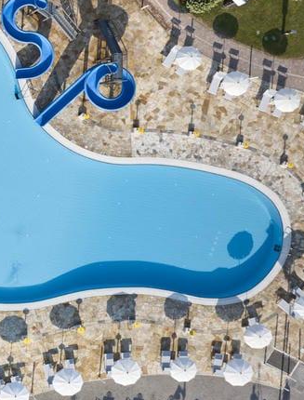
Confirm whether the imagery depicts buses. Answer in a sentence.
No, I find no bus anywhere in the image.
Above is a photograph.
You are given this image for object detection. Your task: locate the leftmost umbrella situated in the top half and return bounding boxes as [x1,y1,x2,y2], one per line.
[172,43,204,73]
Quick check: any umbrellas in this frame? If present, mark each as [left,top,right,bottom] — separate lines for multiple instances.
[166,353,198,384]
[172,43,204,73]
[108,357,139,388]
[0,379,29,400]
[239,316,270,349]
[222,354,254,386]
[51,365,83,397]
[267,84,300,114]
[216,68,248,99]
